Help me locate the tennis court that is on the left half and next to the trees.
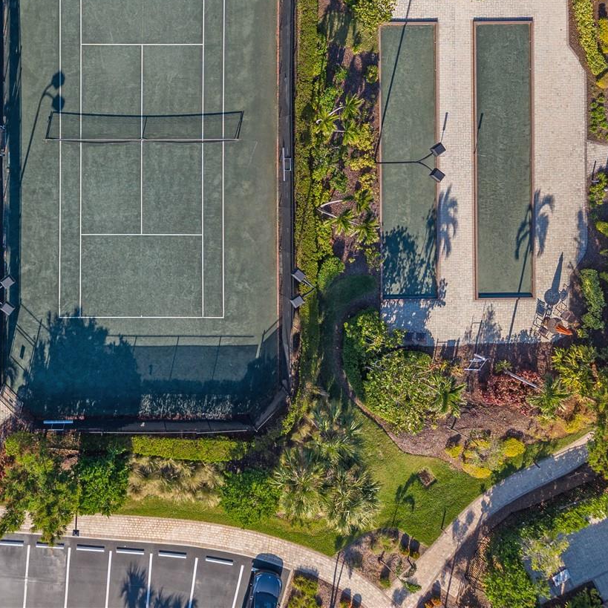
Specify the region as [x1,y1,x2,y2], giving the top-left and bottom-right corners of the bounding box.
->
[8,0,280,419]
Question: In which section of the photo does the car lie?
bottom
